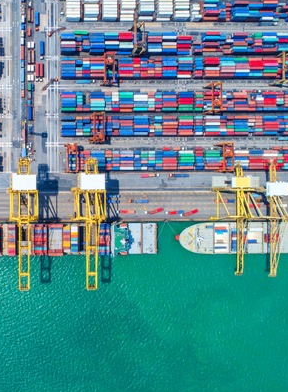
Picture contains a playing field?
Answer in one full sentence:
No, the picture doesn't show any playing field.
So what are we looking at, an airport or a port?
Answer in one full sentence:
What you see here is a port.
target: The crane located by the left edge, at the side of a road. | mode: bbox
[11,157,38,291]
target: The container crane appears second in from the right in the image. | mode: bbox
[208,166,256,276]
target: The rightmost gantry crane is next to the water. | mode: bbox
[239,162,288,279]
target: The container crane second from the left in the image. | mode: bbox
[73,157,105,291]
